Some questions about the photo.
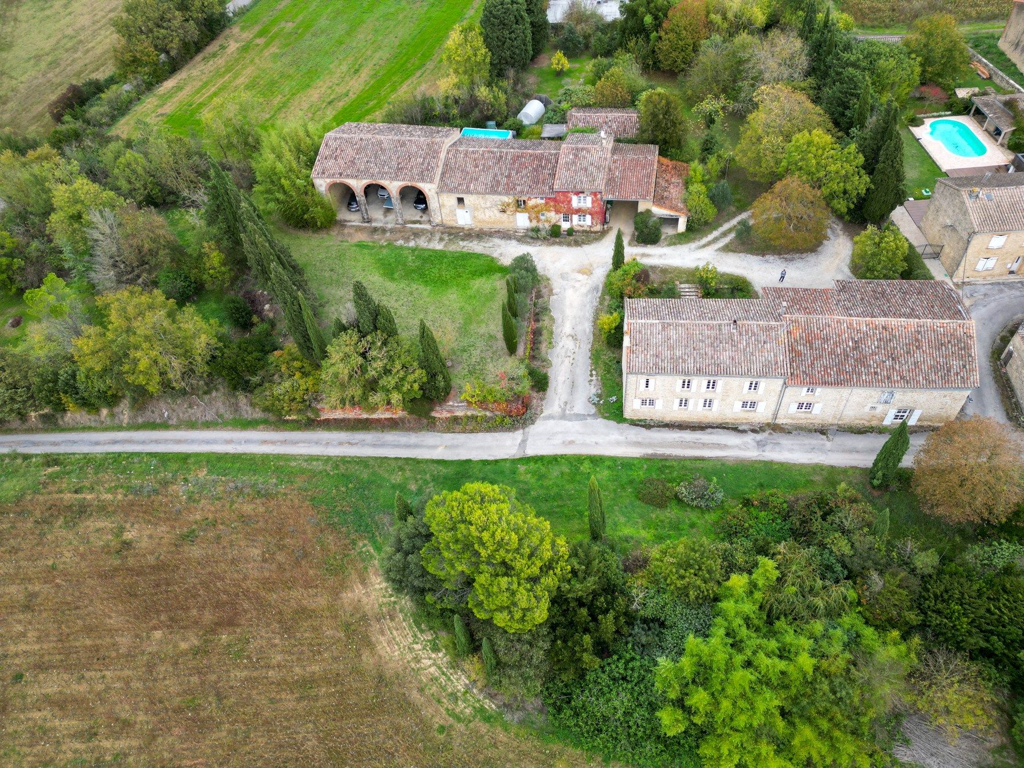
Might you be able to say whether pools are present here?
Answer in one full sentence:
Yes, this view includes a pool.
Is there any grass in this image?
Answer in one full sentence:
Yes, grass shows up in the scene.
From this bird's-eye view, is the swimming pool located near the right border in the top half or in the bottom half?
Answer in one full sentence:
The swimming pool located near the right border sits in the top half of the picture.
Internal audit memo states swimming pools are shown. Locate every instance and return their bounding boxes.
[928,118,989,159]
[460,127,515,139]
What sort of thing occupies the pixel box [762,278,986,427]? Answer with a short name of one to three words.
house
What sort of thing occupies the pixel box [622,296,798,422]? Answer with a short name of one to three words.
house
